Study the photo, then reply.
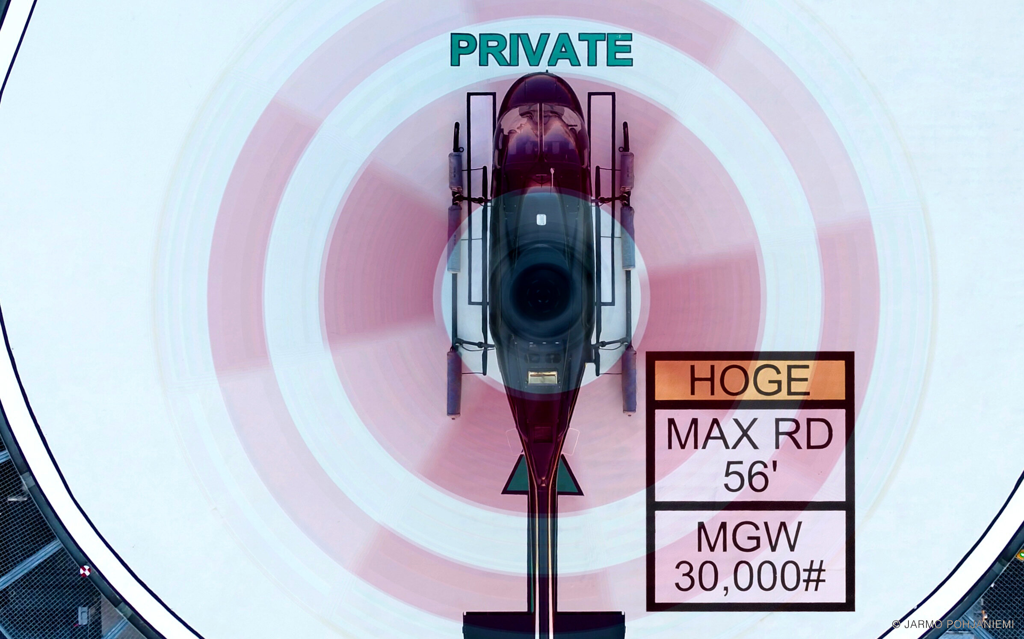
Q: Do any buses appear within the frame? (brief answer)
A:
No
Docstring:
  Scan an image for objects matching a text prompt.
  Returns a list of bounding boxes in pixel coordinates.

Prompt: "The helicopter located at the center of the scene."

[182,0,903,639]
